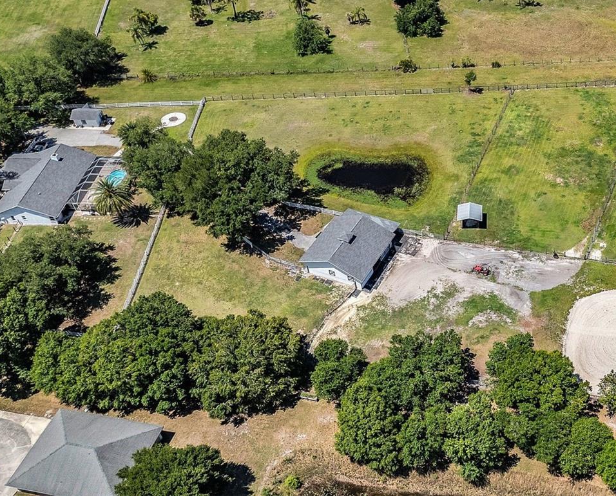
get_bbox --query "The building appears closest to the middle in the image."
[299,208,405,290]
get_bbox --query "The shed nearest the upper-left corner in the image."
[68,102,107,127]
